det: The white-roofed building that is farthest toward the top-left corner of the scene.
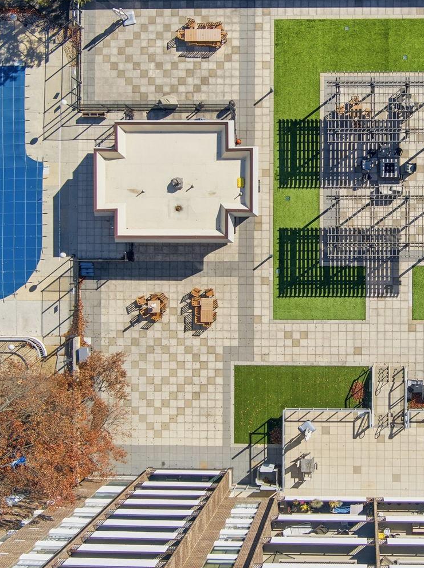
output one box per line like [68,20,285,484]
[94,122,259,241]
